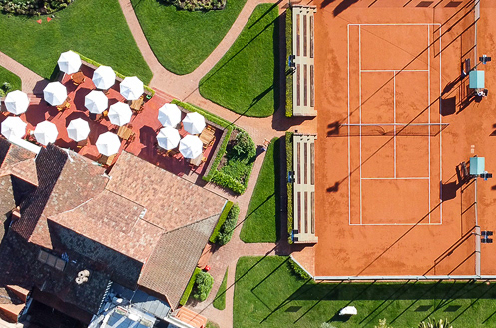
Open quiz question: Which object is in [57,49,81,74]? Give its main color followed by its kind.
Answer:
white umbrella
